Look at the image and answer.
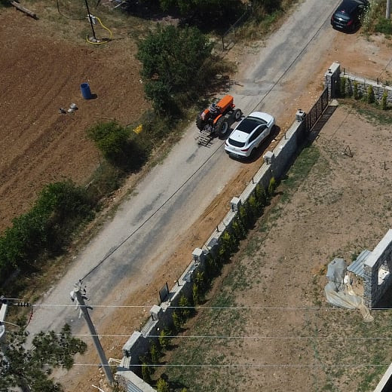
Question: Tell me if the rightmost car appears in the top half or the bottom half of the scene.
top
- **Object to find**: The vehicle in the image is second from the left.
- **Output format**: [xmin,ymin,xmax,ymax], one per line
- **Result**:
[225,111,277,157]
